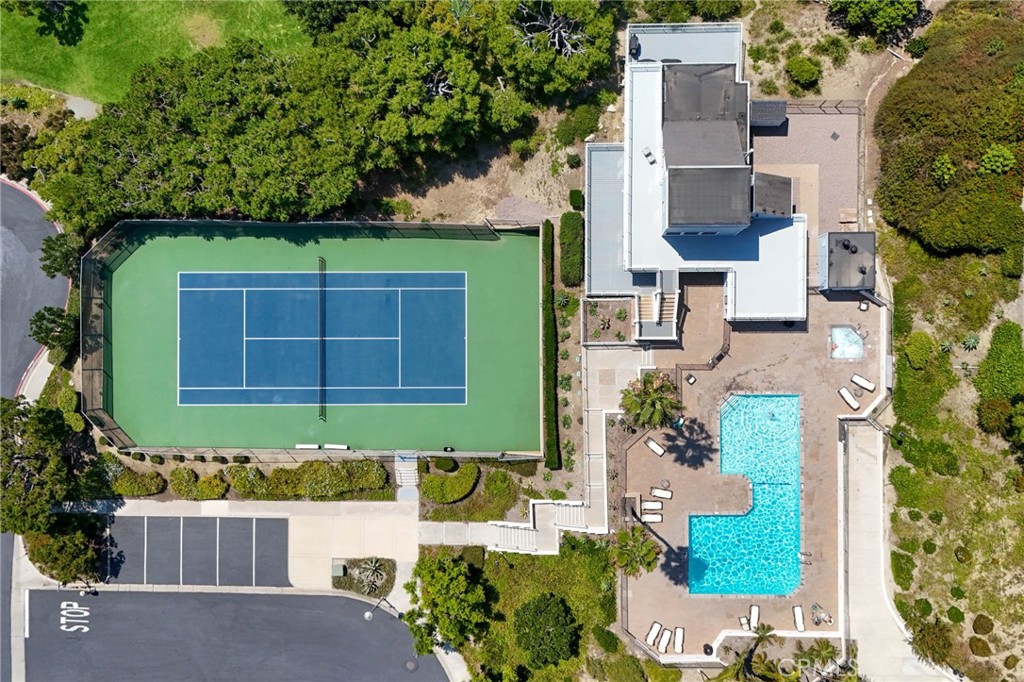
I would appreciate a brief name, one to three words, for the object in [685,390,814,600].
swimming pool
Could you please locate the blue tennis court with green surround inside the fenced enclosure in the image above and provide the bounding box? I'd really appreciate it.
[103,220,543,459]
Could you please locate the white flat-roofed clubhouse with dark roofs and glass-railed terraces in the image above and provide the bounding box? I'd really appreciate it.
[584,20,812,340]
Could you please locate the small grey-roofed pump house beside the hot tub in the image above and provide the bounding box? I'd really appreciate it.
[816,232,877,290]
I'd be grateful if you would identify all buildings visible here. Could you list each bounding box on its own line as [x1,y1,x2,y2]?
[816,232,877,290]
[584,20,812,340]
